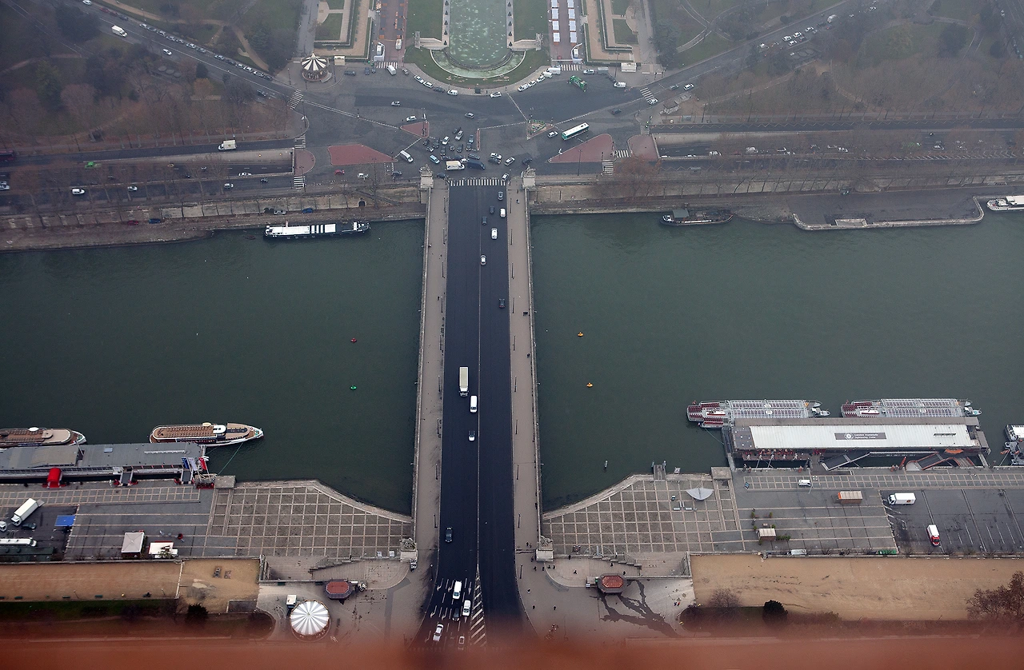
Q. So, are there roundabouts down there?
No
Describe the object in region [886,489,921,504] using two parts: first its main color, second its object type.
white vehicle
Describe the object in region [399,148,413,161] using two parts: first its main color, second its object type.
white vehicle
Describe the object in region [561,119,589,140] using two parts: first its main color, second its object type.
white bus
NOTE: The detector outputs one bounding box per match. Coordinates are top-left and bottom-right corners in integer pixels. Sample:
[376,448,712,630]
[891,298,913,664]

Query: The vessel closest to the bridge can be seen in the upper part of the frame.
[262,220,371,242]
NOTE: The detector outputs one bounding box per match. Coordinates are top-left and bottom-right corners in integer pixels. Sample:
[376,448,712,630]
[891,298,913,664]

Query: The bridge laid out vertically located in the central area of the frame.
[409,185,545,625]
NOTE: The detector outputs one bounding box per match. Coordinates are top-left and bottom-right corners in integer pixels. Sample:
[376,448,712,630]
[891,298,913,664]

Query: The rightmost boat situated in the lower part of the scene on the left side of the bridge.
[149,420,265,449]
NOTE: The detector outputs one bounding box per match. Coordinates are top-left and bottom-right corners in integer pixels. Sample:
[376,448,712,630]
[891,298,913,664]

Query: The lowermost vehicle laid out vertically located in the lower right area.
[926,517,945,549]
